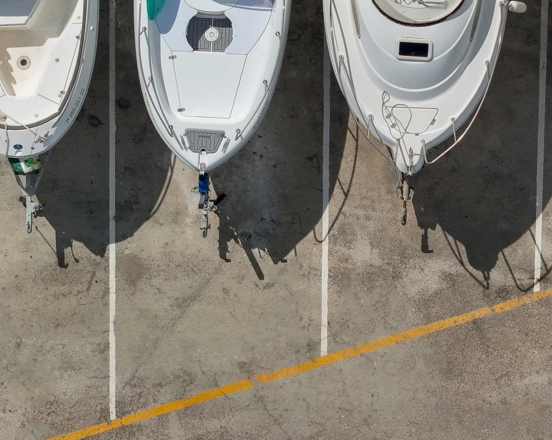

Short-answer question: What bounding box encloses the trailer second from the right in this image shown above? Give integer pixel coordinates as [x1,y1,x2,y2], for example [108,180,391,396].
[188,169,224,238]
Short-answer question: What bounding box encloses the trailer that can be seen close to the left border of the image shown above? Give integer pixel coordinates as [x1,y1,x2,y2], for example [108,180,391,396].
[6,151,52,248]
